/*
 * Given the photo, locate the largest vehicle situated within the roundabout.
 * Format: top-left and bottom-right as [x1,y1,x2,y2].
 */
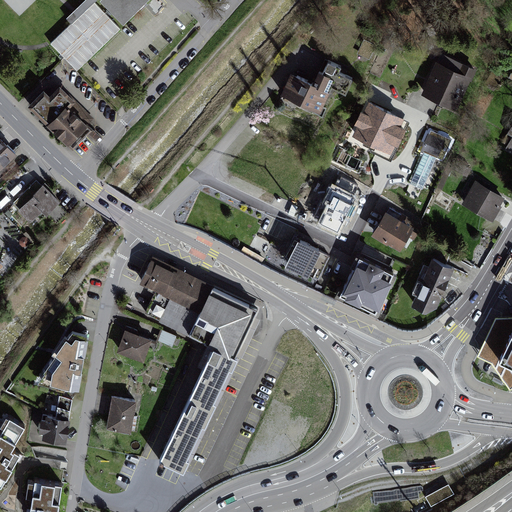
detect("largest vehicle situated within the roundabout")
[418,366,440,388]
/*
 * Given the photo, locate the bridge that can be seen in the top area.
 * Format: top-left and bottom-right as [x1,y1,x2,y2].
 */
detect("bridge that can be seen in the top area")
[84,176,138,228]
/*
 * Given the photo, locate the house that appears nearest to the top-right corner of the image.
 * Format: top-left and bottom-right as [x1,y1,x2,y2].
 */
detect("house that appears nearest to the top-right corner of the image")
[422,56,475,112]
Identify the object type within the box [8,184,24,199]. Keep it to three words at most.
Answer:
vehicle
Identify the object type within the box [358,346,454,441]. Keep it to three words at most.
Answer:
roundabout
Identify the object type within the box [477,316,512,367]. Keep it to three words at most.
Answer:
building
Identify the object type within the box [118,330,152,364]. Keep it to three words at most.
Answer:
house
